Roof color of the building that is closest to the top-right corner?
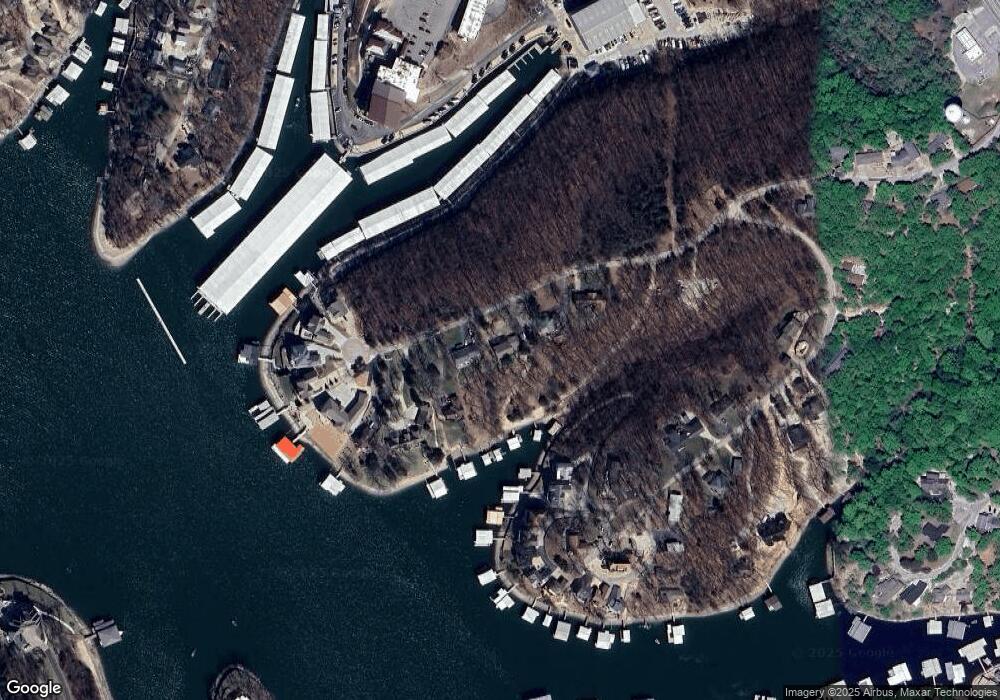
white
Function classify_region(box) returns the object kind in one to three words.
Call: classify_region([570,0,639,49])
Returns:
building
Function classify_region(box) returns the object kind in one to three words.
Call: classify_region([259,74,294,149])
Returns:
pier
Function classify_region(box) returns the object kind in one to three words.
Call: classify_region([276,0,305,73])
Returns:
pier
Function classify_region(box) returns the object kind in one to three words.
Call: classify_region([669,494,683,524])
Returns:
house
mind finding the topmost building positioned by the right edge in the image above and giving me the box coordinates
[958,26,984,59]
